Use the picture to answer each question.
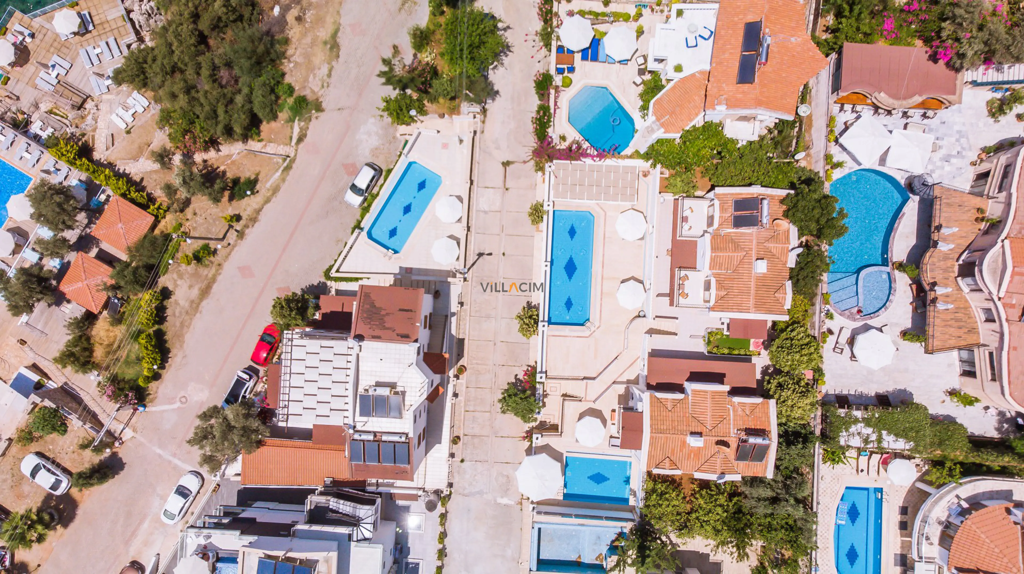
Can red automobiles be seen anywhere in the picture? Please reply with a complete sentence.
Yes, a red automobile is visible in the scene.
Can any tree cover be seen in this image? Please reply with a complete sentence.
Yes, the picture does contain tree cover.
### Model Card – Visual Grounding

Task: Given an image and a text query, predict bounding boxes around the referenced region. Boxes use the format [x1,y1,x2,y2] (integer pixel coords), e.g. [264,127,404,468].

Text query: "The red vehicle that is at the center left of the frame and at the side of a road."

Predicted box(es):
[248,322,280,369]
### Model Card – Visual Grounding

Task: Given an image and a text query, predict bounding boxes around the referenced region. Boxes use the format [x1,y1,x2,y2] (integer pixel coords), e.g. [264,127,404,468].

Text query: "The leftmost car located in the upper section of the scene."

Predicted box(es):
[344,158,385,210]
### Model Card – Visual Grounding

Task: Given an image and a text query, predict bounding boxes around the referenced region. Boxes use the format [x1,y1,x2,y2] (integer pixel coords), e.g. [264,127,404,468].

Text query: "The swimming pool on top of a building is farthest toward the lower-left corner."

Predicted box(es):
[22,374,41,397]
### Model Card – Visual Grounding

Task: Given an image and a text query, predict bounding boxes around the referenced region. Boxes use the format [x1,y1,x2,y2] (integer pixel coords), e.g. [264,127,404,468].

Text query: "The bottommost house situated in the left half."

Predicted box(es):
[169,479,402,574]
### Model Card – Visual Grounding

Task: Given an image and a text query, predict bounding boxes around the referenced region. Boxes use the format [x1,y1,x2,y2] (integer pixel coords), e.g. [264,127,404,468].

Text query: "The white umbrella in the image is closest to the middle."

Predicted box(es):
[431,236,460,266]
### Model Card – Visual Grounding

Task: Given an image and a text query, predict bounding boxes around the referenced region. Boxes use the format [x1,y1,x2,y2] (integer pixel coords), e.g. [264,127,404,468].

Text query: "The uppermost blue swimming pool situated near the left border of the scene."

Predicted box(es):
[0,158,33,228]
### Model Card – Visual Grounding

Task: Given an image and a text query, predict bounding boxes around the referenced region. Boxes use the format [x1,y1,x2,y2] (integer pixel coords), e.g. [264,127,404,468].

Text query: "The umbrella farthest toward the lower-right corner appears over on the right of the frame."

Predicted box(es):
[885,457,915,486]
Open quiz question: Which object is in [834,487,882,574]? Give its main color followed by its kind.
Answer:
blue swimming pool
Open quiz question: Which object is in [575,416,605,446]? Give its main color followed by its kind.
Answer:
white umbrella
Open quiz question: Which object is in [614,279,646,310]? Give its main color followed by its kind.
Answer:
white umbrella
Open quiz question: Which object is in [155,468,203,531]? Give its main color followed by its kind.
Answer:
white car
